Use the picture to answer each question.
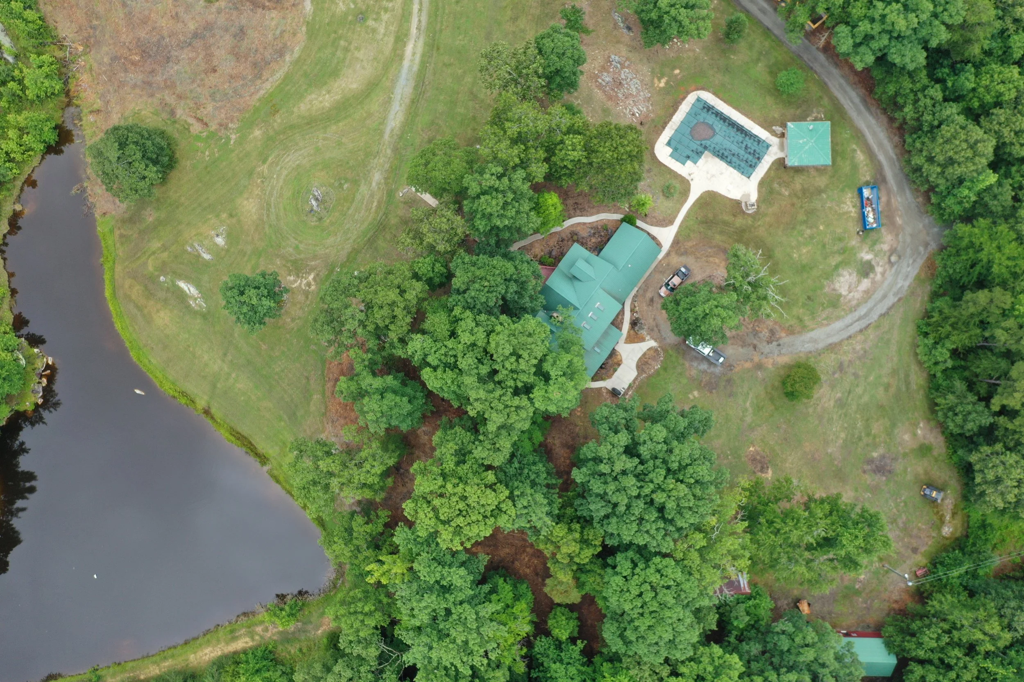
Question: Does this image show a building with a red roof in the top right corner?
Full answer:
No, no building with a red roof is visible in the top right corner.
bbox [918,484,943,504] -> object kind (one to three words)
work vehicle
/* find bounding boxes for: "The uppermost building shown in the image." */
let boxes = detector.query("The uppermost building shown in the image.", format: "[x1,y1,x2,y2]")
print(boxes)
[784,121,832,167]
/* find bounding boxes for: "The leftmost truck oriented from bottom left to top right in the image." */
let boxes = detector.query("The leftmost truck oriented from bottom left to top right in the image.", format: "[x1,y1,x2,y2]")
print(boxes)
[656,259,696,300]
